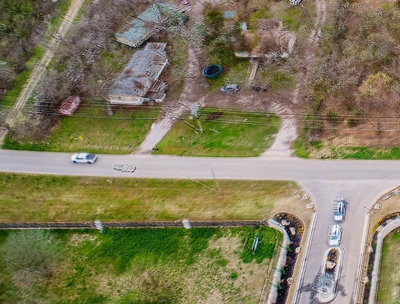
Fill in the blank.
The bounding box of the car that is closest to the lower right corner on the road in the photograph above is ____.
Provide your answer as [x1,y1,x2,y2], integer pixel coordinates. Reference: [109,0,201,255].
[325,221,344,246]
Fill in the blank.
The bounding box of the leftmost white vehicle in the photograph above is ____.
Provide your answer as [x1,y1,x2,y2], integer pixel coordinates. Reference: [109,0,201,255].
[66,150,99,165]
